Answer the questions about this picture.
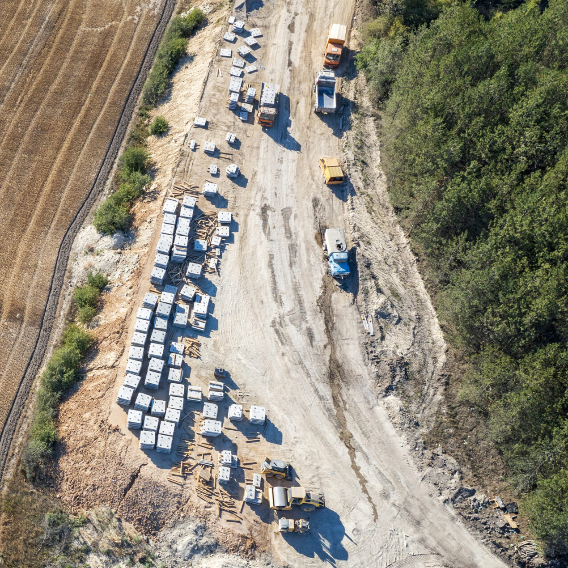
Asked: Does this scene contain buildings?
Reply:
No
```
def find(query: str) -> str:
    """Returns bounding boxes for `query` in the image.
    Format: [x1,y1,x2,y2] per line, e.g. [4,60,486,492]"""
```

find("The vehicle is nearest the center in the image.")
[321,229,348,282]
